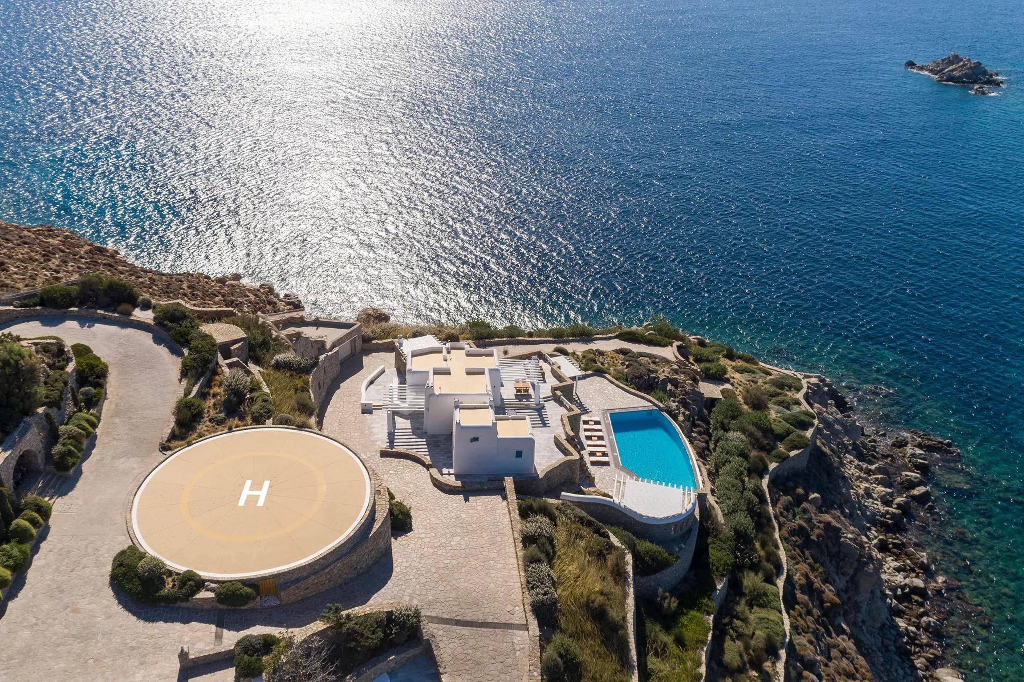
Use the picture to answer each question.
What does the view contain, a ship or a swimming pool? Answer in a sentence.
It is a swimming pool that can be seen here.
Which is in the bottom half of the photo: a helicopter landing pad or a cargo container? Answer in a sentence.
Looking in the bottom half of the photo, you will find a helicopter landing pad.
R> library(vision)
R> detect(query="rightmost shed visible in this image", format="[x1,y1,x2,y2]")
[698,382,733,415]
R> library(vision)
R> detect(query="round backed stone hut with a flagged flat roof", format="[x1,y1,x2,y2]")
[200,322,247,358]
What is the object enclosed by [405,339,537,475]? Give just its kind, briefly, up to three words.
house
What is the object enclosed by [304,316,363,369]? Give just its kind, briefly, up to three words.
building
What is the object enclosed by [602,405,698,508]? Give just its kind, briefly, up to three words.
swimming pool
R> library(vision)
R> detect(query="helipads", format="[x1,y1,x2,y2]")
[123,424,377,603]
